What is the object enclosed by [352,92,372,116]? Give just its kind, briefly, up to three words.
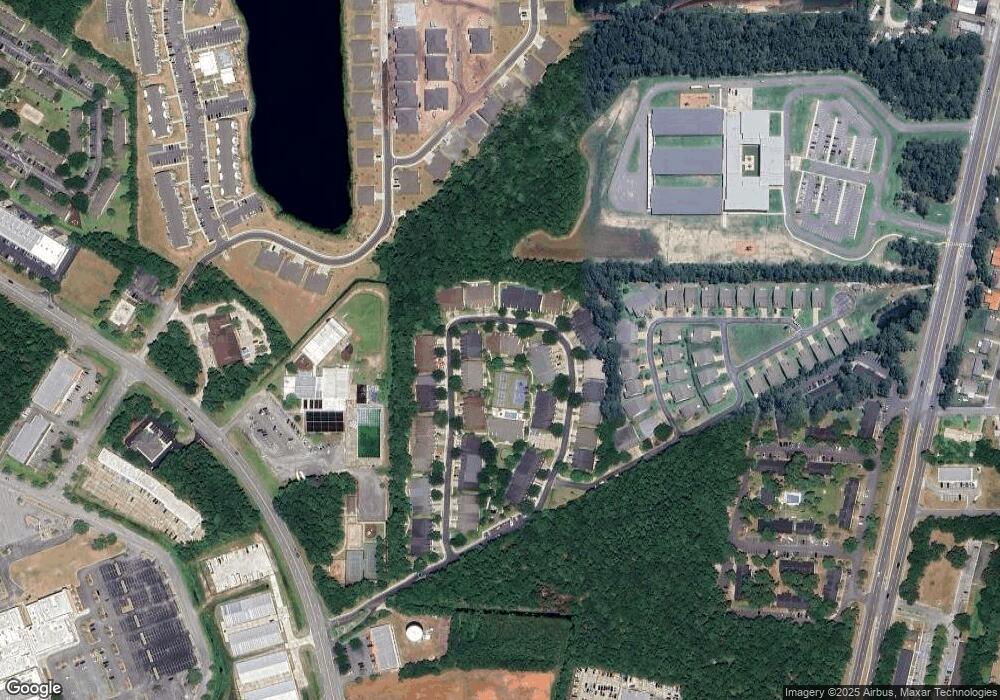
house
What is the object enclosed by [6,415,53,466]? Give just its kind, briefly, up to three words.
building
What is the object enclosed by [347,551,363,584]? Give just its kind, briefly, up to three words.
tennis court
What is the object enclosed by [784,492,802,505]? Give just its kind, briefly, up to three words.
swimming pool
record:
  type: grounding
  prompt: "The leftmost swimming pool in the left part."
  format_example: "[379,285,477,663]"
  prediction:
[218,49,232,69]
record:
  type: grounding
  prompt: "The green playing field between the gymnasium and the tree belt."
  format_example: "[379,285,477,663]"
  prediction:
[343,292,383,351]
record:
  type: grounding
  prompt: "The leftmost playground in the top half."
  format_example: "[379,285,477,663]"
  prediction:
[680,93,710,108]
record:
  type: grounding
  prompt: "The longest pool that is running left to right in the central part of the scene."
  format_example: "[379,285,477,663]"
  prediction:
[492,407,520,420]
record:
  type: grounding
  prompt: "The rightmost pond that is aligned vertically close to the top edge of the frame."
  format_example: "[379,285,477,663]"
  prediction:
[233,0,353,230]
